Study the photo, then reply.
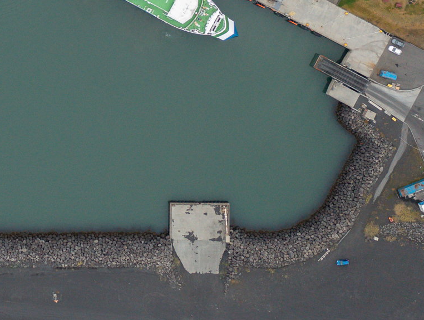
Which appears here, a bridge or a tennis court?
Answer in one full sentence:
It is a bridge that can be seen here.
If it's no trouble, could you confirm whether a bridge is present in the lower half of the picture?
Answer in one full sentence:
No, no bridge appears in the lower half of the picture.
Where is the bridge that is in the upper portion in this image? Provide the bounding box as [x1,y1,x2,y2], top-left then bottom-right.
[305,52,370,94]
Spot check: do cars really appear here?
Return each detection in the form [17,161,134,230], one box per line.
[388,45,402,56]
[336,259,350,266]
[390,38,404,49]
